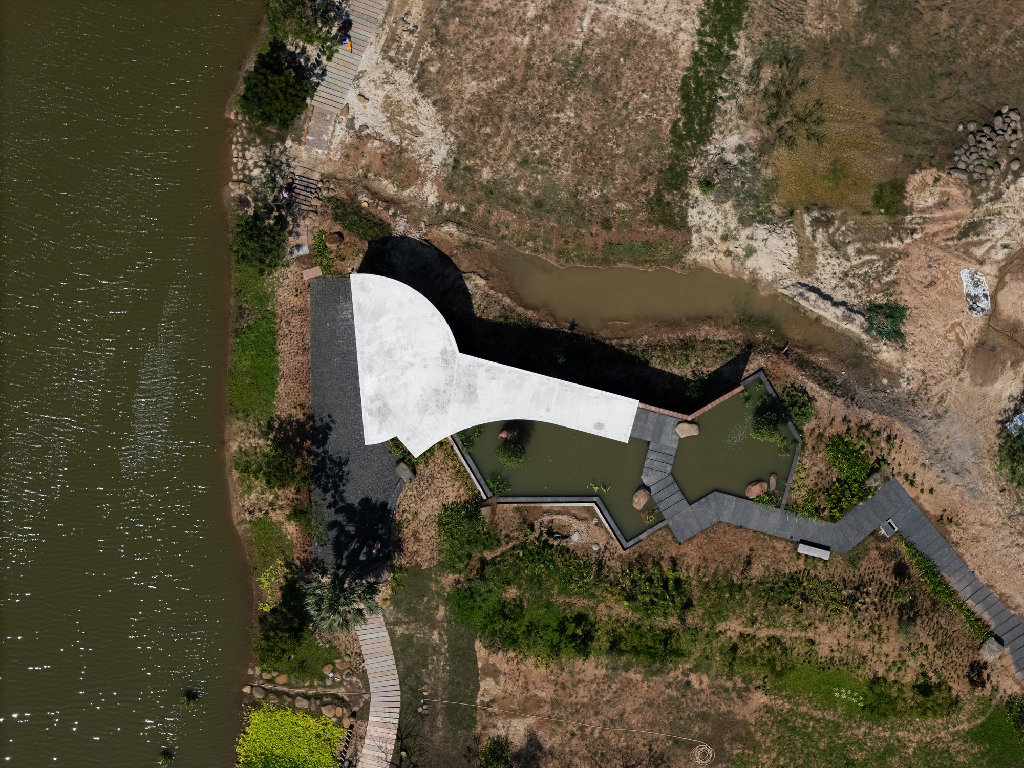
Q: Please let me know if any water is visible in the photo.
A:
Yes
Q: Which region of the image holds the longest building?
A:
center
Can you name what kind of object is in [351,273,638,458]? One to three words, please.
building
